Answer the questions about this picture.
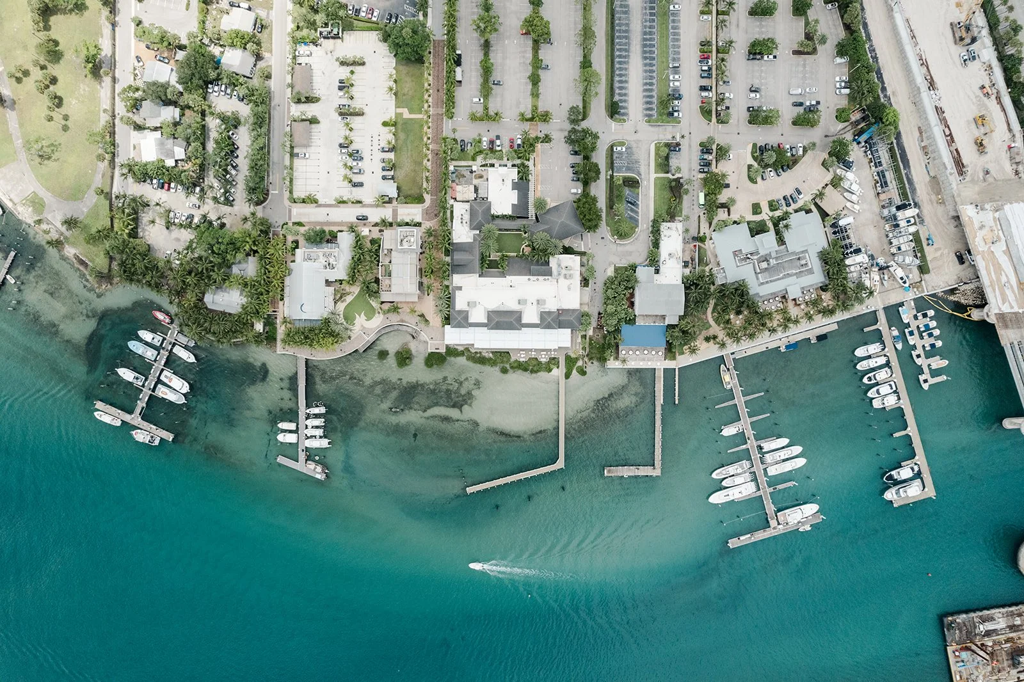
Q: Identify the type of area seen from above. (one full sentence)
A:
This looks like a port.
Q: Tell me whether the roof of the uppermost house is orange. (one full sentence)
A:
No, the roof of the uppermost house is actually white.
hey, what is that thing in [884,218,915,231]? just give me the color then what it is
white boat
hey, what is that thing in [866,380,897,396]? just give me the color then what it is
white boat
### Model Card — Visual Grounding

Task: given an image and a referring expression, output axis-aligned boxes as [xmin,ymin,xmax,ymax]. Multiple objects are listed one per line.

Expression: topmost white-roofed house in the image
[221,8,257,35]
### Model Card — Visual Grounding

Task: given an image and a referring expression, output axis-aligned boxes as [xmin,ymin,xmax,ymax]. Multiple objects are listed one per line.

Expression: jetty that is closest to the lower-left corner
[93,322,189,442]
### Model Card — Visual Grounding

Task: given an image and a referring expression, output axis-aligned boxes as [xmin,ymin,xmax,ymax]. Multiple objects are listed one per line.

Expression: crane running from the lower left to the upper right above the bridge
[953,0,993,45]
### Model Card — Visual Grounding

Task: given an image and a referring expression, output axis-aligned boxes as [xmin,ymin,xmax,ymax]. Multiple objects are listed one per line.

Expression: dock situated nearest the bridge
[904,300,946,383]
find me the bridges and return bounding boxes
[957,203,1024,432]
